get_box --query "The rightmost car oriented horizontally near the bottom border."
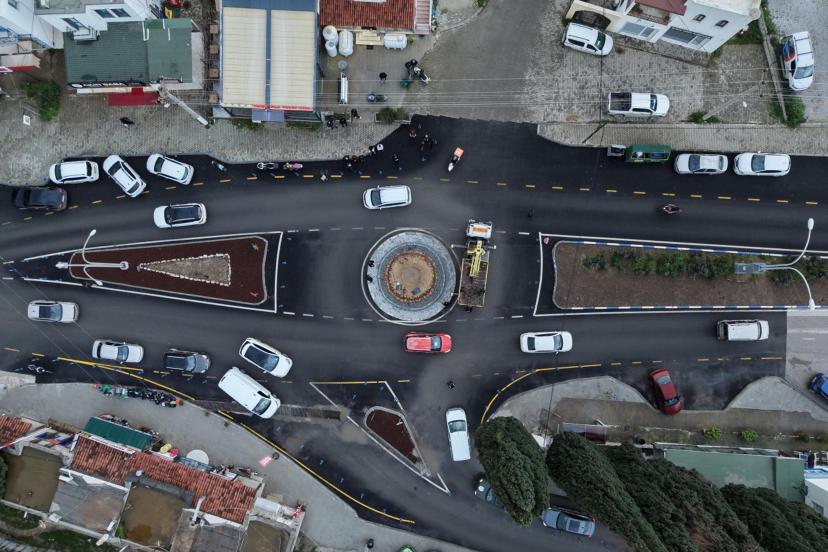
[539,504,598,536]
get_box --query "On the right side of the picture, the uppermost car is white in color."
[560,19,614,56]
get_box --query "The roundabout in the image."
[367,232,456,320]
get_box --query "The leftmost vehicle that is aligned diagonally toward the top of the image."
[104,152,149,201]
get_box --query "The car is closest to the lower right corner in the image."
[801,372,828,404]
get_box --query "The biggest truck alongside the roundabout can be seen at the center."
[453,215,500,310]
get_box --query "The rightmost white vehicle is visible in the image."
[779,32,817,93]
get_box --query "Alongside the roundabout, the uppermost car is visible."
[361,186,413,210]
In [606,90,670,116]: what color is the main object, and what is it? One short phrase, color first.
white vehicle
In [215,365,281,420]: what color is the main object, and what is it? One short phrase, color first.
white vehicle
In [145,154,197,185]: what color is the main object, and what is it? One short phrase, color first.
white car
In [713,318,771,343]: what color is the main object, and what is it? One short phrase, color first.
white car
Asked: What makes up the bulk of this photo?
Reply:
paved ground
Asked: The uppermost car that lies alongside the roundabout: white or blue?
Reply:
white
